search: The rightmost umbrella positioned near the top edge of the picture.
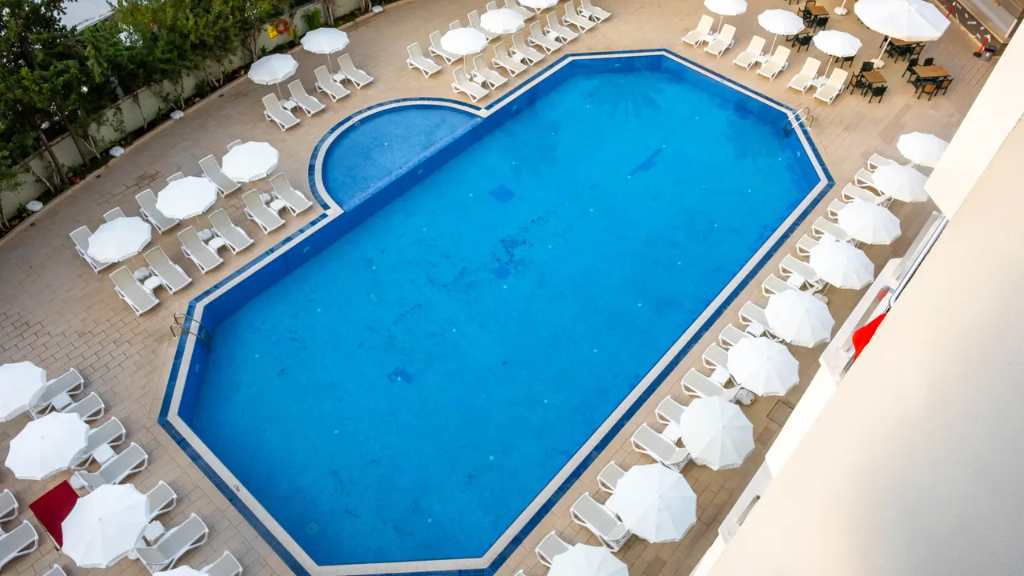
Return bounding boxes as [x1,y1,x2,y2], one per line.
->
[848,0,953,66]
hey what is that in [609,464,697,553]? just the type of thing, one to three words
umbrella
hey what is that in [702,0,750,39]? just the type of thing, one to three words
umbrella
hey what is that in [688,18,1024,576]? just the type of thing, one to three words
building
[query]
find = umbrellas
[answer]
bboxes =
[220,141,283,202]
[156,176,225,238]
[702,0,750,39]
[814,30,864,80]
[246,51,300,106]
[480,6,528,43]
[757,10,805,59]
[3,408,99,489]
[848,0,953,66]
[440,26,492,79]
[609,464,697,553]
[296,25,349,78]
[513,0,560,21]
[0,358,53,431]
[544,523,635,576]
[894,131,948,172]
[762,289,836,350]
[809,240,876,304]
[722,335,799,403]
[868,162,929,209]
[81,214,156,279]
[839,200,904,249]
[670,397,754,473]
[57,483,158,576]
